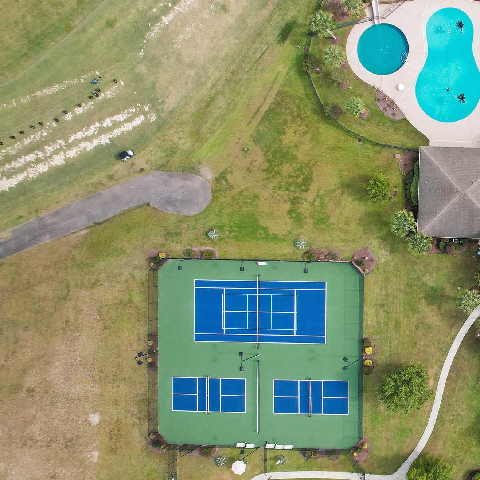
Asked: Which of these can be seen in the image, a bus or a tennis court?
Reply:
tennis court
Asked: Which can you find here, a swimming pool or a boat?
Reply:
swimming pool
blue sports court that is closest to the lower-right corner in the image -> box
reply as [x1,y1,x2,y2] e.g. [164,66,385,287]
[273,378,349,418]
